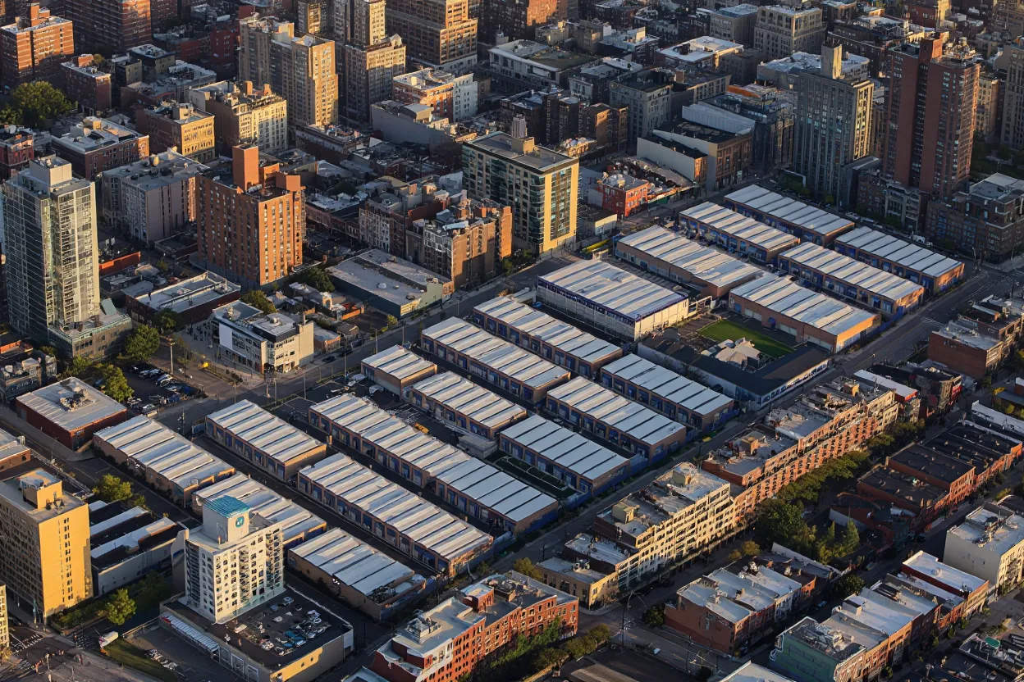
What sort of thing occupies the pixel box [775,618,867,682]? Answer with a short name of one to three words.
building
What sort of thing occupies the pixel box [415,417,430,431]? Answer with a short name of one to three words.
vehicle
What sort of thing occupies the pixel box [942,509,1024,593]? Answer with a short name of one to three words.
building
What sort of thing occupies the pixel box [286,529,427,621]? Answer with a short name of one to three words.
shed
